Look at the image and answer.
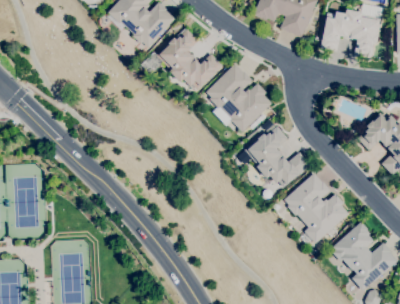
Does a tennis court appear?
Yes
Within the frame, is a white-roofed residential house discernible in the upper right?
Yes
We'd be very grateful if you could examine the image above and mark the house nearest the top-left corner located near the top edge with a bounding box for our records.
[108,0,176,49]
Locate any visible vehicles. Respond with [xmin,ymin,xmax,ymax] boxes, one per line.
[221,29,233,40]
[204,17,214,26]
[170,274,180,285]
[138,228,148,239]
[73,150,83,160]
